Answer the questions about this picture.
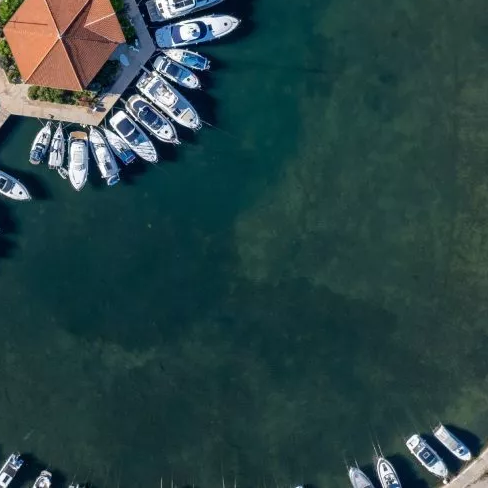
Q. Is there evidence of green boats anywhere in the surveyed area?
No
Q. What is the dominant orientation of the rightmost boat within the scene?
diagonally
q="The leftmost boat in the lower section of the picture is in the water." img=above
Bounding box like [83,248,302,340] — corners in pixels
[0,454,21,488]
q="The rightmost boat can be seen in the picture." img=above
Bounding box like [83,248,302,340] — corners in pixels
[433,420,470,462]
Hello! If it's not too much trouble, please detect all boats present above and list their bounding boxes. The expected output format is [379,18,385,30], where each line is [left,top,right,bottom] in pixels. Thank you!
[371,444,405,488]
[111,98,166,177]
[156,47,210,72]
[144,0,223,20]
[152,11,244,48]
[130,66,210,135]
[433,420,470,462]
[67,121,90,200]
[148,49,217,97]
[0,454,21,488]
[347,461,373,488]
[47,122,66,167]
[29,119,52,164]
[56,164,67,178]
[32,470,51,488]
[122,94,199,158]
[89,124,120,178]
[0,169,32,201]
[402,432,448,478]
[103,125,135,164]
